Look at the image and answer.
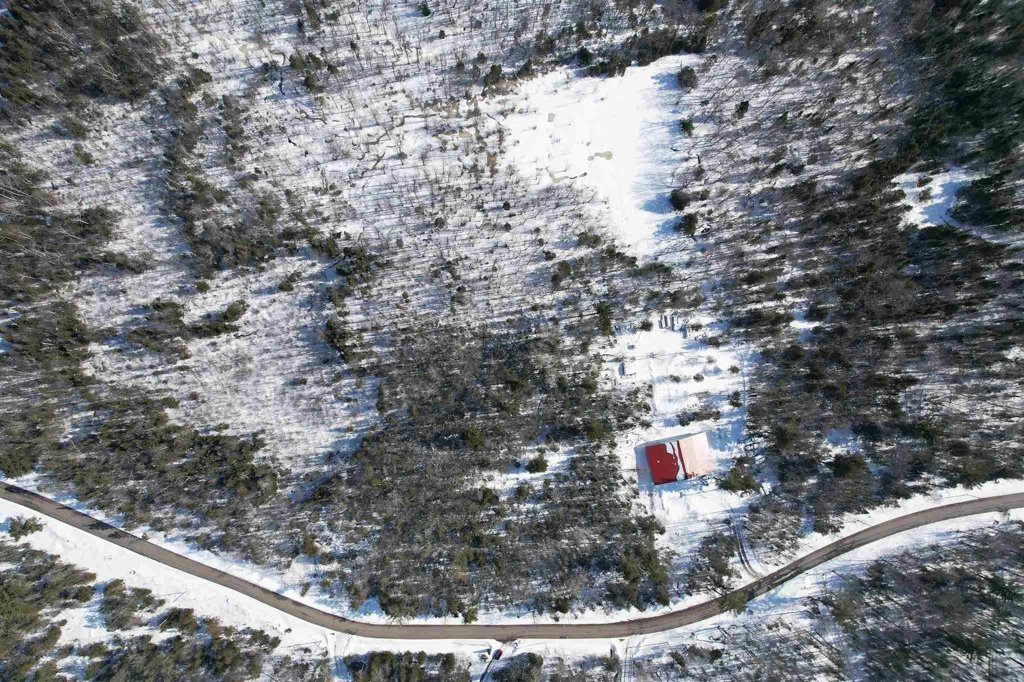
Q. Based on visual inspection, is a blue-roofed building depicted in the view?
No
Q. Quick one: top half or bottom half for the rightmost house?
bottom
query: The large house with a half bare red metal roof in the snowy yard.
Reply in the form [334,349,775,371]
[647,433,714,484]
